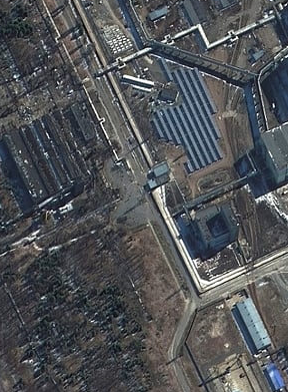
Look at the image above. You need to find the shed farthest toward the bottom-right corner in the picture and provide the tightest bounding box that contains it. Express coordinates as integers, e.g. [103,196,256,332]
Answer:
[266,362,286,392]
